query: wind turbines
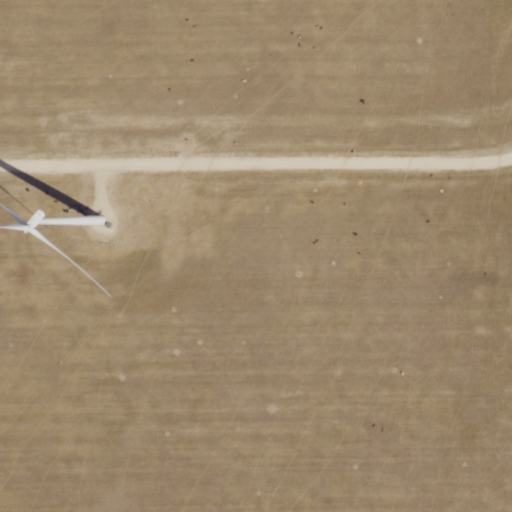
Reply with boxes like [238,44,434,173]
[0,204,110,295]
